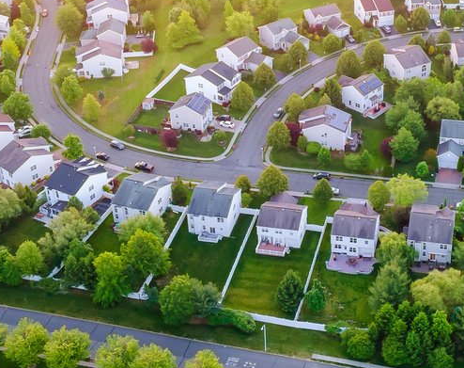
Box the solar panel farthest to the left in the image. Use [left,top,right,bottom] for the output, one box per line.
[187,94,213,118]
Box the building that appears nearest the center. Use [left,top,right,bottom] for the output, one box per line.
[189,185,244,236]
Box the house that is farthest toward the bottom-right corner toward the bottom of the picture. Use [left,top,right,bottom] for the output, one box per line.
[405,207,457,259]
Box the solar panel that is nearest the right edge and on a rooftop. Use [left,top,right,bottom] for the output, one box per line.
[356,76,381,98]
